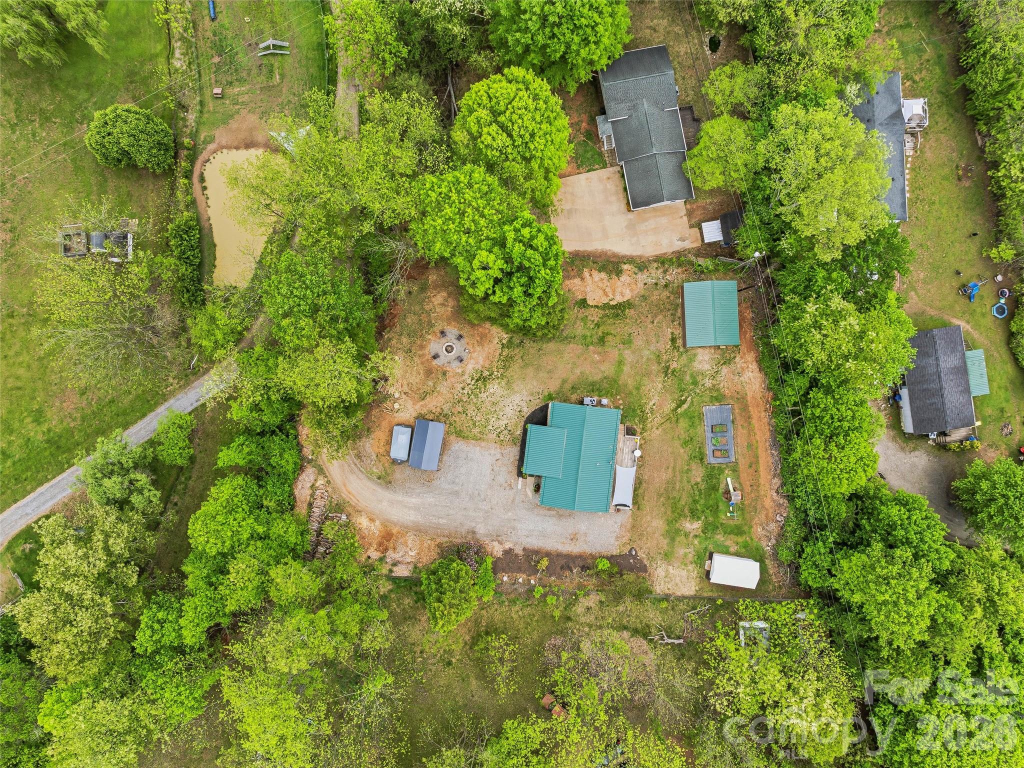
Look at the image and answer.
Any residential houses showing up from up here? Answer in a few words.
Yes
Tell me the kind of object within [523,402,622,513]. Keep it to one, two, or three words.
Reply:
house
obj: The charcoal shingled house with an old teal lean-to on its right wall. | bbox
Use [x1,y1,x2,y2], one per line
[891,325,989,435]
